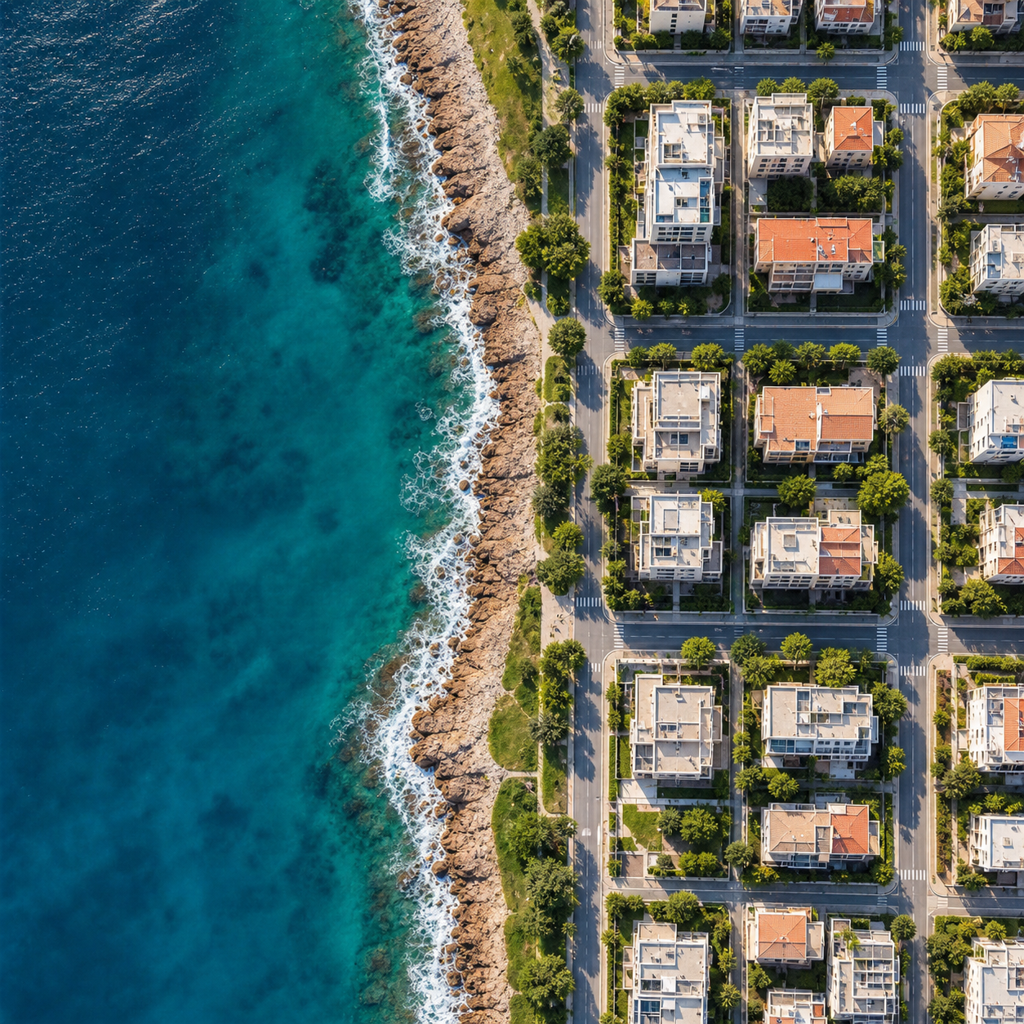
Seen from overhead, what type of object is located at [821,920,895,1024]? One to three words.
building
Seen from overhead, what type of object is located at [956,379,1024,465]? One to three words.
building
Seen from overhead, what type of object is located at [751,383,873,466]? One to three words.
house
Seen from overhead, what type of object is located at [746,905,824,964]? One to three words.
house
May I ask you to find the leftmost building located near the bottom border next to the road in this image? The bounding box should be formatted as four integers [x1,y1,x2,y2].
[622,923,709,1024]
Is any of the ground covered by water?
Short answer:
Yes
